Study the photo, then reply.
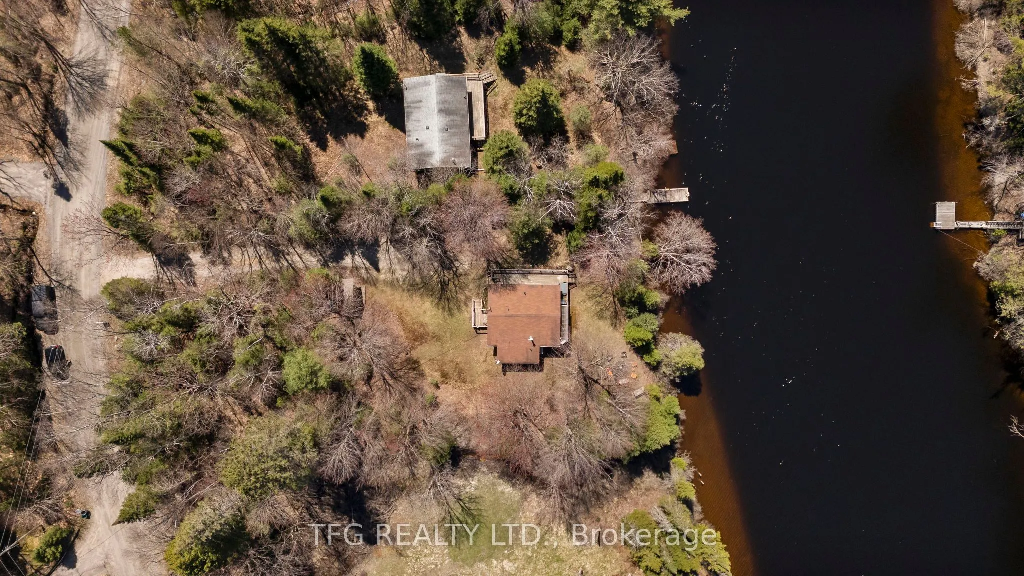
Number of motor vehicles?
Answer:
2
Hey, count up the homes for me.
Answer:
two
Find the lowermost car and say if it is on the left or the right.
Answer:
left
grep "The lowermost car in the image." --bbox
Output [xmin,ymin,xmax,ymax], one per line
[45,342,72,384]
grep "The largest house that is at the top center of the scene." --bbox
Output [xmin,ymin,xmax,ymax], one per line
[401,74,472,172]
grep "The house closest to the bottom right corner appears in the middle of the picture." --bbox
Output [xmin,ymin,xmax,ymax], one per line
[487,284,567,365]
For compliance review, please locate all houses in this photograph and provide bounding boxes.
[487,284,567,365]
[401,74,472,172]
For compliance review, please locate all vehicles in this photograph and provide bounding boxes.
[45,342,72,384]
[31,285,59,337]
